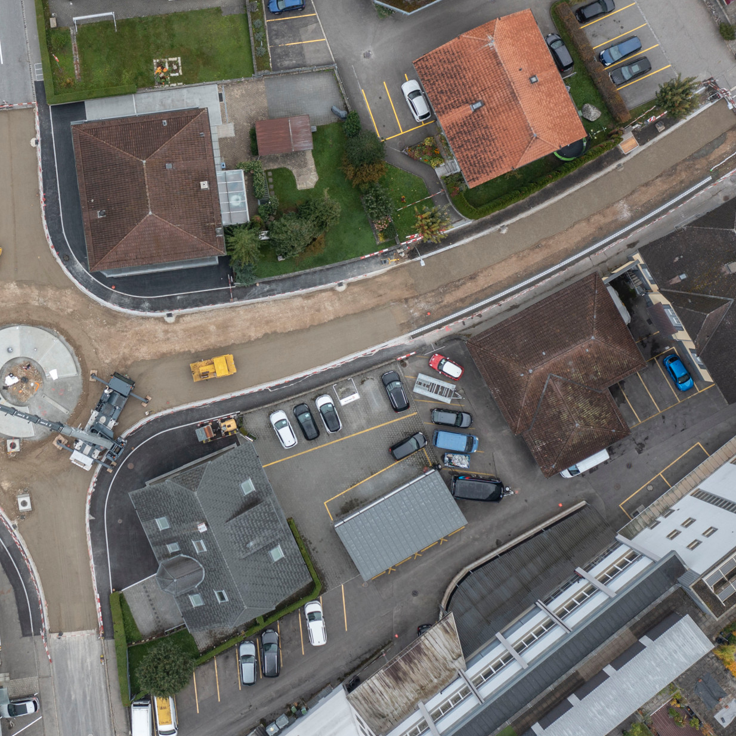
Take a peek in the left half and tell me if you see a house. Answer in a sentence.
Yes, a house can be seen in the left half.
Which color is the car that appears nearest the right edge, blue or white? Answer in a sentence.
From above, the car that appears nearest the right edge appears blue.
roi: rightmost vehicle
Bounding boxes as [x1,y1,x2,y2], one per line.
[663,352,691,392]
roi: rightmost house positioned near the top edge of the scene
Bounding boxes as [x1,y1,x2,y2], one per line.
[413,8,588,188]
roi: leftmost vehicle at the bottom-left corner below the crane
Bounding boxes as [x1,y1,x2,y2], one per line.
[0,694,41,718]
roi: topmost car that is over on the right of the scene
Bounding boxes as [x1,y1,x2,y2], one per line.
[573,0,616,26]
